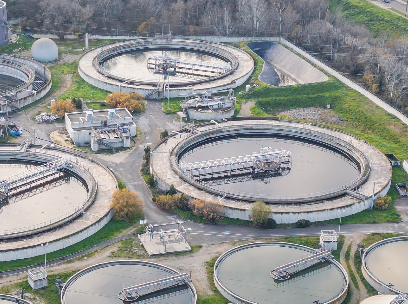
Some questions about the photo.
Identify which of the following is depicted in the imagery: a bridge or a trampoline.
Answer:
bridge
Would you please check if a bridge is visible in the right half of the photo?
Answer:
Yes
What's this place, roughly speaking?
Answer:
industrial area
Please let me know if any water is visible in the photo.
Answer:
Yes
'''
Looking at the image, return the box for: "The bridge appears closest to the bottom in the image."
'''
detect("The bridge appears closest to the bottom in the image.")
[118,270,192,301]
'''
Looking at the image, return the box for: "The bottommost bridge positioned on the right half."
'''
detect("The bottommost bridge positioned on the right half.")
[270,248,335,281]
